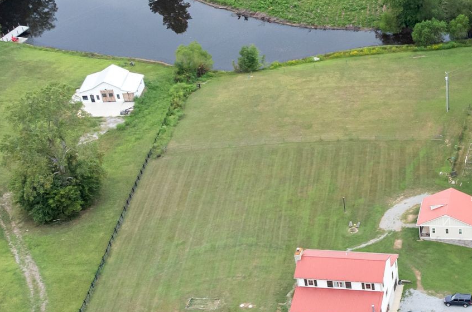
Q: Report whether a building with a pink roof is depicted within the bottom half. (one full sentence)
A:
Yes, the scene does show a building with a pink roof within the bottom half.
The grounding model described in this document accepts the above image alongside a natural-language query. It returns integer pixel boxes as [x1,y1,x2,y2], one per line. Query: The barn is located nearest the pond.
[79,64,148,103]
